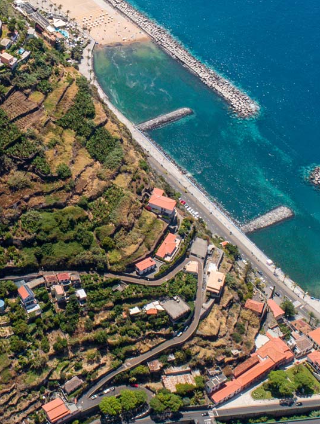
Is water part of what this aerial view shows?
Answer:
Yes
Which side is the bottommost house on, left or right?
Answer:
left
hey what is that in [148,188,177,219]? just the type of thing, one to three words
house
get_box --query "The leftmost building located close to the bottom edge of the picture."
[42,400,71,424]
